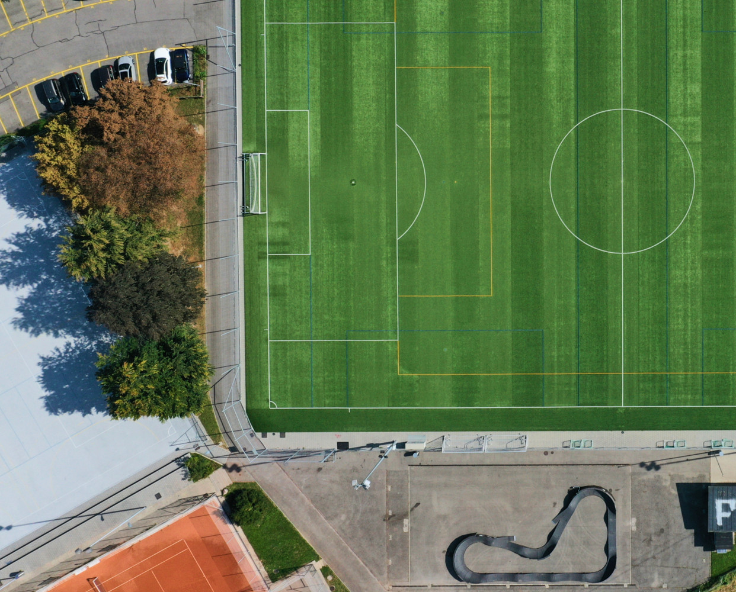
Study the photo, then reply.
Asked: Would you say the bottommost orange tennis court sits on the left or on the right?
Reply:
left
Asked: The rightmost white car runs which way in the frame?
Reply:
vertically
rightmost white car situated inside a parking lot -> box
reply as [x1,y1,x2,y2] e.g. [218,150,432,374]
[153,47,173,85]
